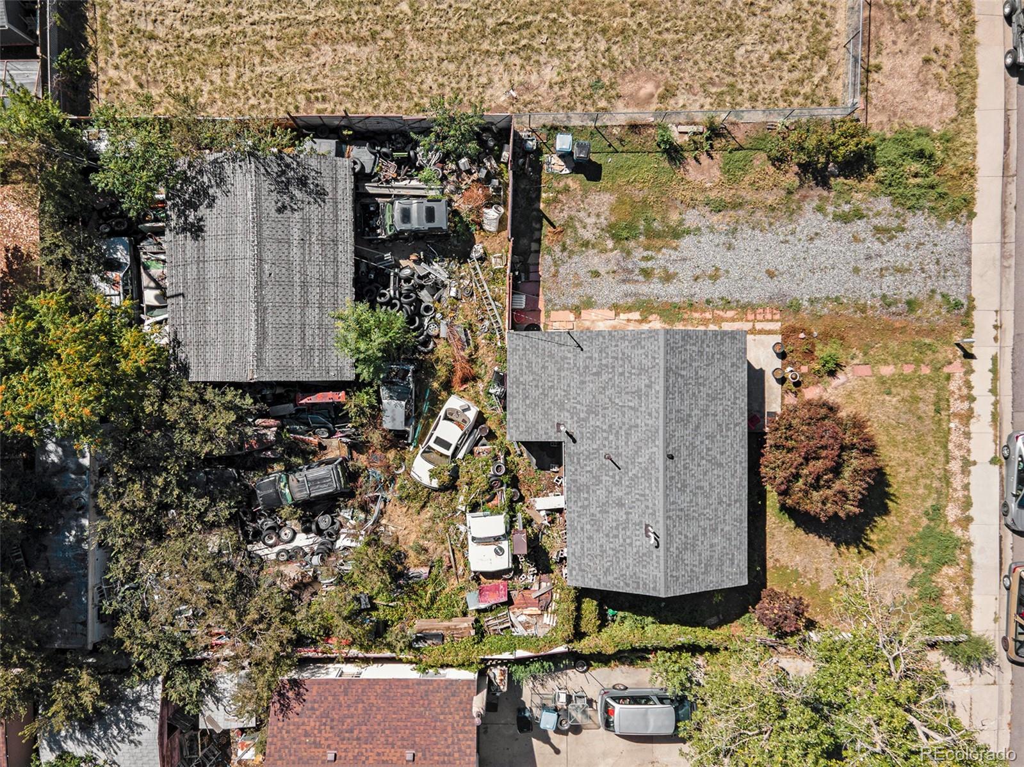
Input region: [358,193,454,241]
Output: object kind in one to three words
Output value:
car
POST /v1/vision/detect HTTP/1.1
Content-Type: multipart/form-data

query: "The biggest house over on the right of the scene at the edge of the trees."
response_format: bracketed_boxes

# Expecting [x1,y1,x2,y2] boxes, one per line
[506,328,747,593]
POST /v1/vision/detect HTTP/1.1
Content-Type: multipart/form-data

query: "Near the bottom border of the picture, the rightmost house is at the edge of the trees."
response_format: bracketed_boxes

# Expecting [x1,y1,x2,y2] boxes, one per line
[262,660,488,767]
